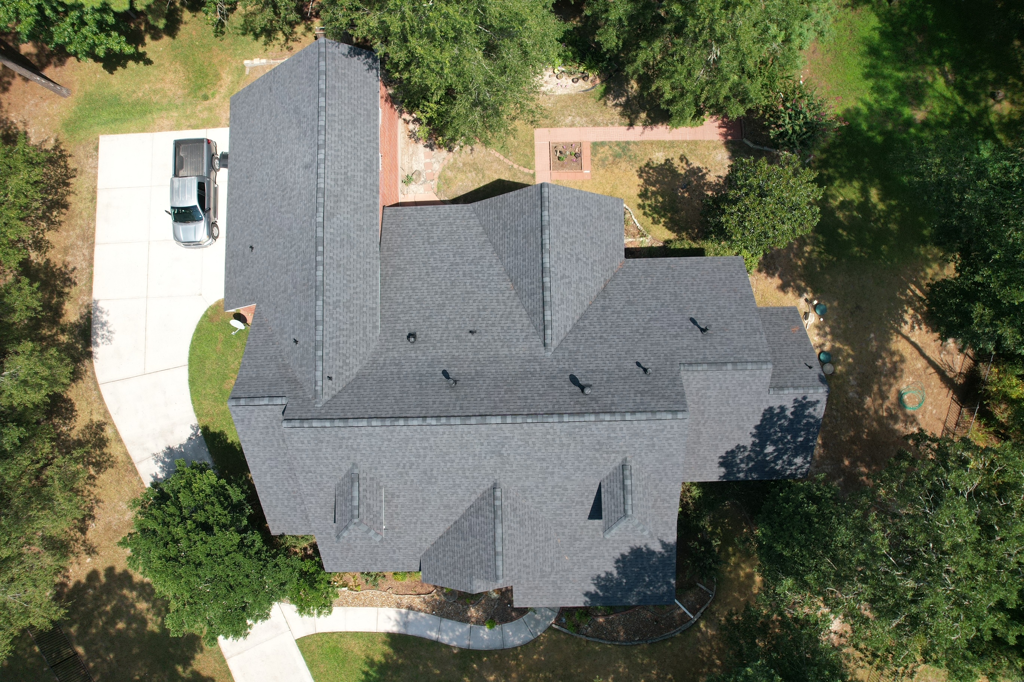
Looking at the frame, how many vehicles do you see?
1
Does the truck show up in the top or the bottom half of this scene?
top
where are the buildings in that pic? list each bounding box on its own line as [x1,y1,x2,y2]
[224,36,828,604]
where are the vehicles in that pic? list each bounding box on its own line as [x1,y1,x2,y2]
[166,138,222,249]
